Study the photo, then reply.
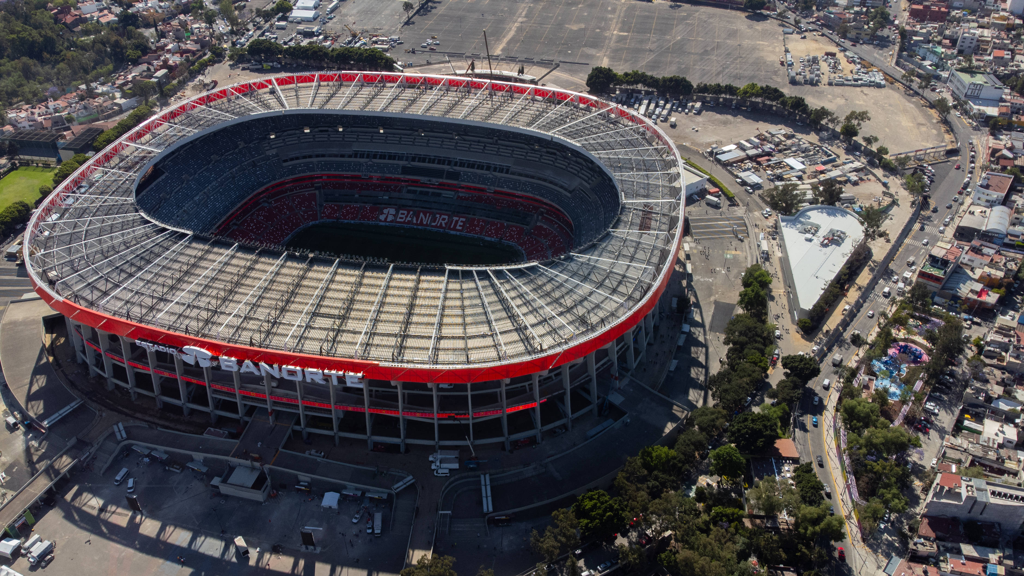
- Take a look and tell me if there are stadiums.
Yes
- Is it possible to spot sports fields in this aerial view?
Yes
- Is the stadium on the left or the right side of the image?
left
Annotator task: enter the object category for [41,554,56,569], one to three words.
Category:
car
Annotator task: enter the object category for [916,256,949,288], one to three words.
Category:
house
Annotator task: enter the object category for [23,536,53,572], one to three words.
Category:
truck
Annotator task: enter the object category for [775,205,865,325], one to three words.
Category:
building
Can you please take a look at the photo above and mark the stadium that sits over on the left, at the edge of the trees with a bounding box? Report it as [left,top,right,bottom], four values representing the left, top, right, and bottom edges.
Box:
[19,69,685,454]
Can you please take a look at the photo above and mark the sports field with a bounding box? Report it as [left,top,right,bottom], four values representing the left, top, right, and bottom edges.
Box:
[277,222,533,270]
